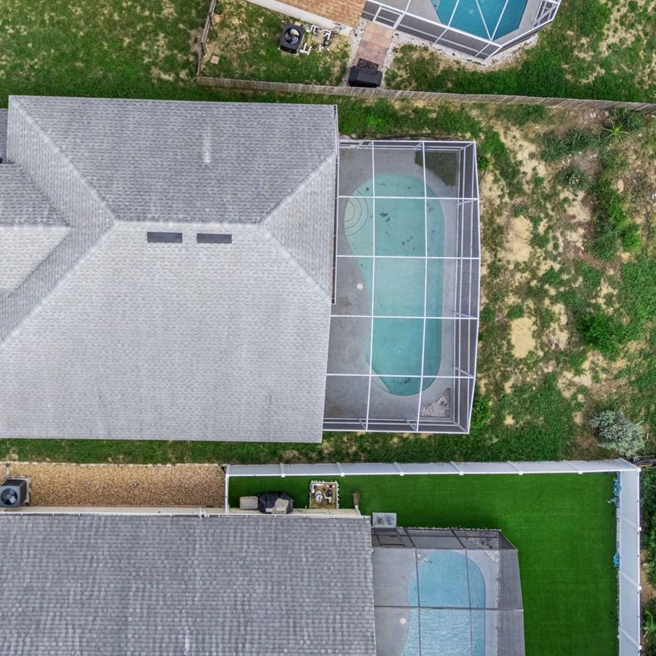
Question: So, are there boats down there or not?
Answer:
No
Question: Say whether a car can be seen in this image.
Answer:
No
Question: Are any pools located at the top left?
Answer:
No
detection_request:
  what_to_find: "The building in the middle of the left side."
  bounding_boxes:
[0,94,339,442]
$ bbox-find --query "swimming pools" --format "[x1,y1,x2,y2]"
[397,549,490,656]
[340,169,449,399]
[427,0,532,43]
